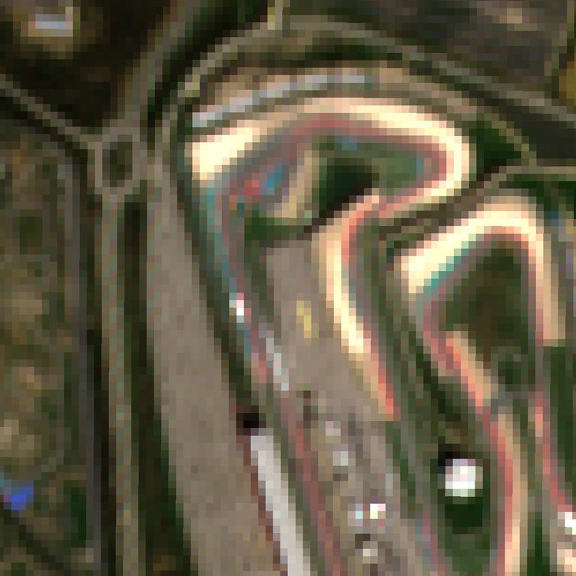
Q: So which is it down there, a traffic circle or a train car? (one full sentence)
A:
It is a traffic circle that can be seen here.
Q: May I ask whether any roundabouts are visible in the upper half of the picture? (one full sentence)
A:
Yes, a roundabout is visible in the upper half of the picture.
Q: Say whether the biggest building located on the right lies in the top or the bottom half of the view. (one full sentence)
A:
Seen from above, the biggest building located on the right lies in the bottom half of the view.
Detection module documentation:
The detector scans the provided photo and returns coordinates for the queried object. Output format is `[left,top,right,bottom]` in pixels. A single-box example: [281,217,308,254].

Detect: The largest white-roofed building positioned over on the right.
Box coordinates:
[445,458,478,499]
